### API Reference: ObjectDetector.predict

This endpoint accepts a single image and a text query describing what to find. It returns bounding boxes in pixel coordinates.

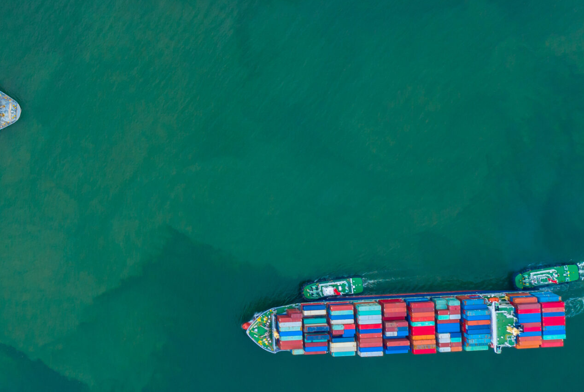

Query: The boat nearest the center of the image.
[301,274,363,300]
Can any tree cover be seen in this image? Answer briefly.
No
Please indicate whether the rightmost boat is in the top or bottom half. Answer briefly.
bottom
